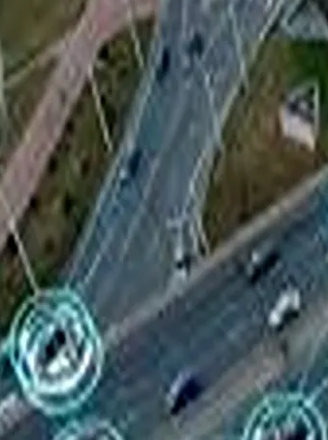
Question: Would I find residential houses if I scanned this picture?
No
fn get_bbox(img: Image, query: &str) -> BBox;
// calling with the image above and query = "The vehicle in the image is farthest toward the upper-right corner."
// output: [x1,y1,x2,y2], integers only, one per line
[183,30,207,56]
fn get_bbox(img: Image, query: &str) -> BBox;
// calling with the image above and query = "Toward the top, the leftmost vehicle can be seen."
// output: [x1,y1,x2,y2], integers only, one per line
[124,149,146,178]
